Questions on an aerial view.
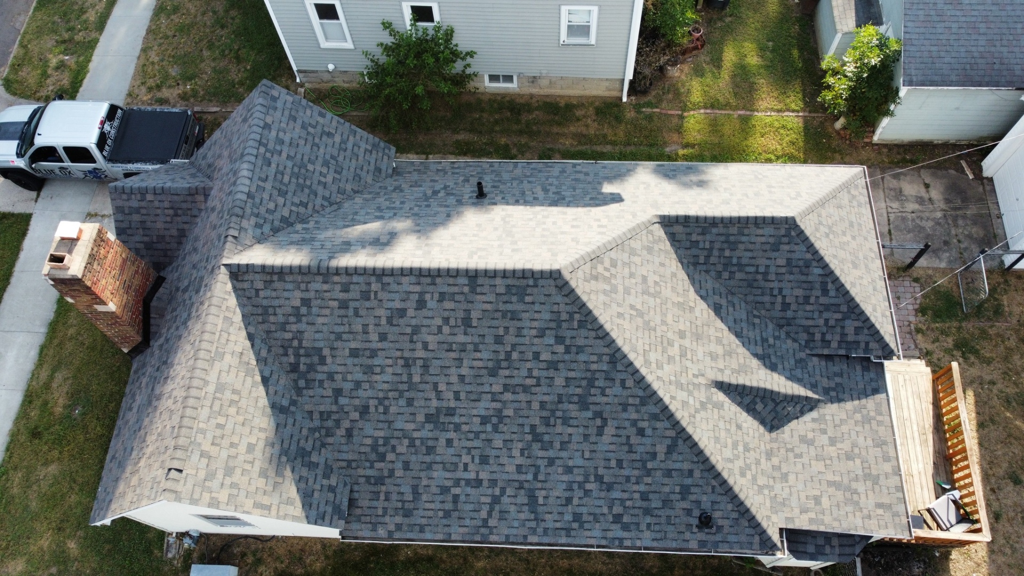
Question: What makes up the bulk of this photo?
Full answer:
The largest share of the image is taken up by buildings.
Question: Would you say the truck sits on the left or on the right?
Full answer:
The truck is on the left side of the image.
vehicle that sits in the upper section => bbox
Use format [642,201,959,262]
[0,90,220,192]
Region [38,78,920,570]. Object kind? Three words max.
house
